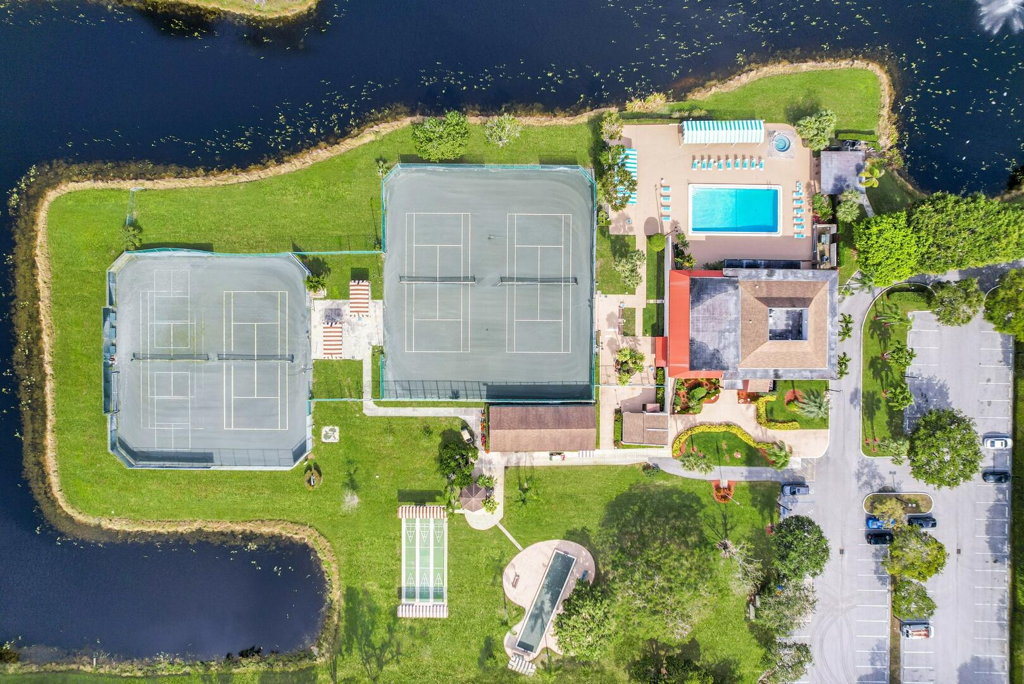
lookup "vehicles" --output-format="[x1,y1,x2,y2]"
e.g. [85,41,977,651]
[865,531,894,545]
[782,483,810,496]
[461,427,474,441]
[983,436,1012,449]
[866,516,895,530]
[907,517,937,530]
[900,622,936,638]
[981,471,1011,484]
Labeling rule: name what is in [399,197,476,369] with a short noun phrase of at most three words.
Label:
tennis court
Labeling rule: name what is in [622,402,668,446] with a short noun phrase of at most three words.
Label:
shed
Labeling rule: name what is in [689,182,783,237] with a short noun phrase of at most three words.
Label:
swimming pool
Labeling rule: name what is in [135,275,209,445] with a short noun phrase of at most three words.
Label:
tennis court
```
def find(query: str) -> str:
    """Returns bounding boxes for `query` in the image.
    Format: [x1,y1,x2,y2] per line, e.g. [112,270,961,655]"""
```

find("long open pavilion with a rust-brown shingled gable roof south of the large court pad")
[490,405,596,451]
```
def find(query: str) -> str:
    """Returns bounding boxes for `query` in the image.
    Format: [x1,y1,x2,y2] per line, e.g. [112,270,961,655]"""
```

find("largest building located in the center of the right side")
[653,260,839,392]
